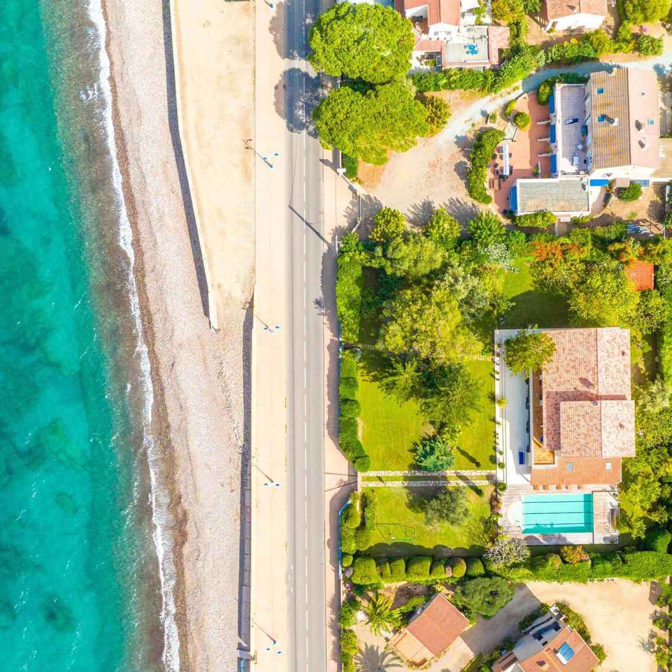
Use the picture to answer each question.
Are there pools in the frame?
Yes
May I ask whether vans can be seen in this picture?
No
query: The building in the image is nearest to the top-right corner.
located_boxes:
[542,0,607,35]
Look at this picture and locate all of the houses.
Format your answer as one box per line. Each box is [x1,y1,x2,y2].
[526,328,635,485]
[404,0,509,72]
[542,0,607,35]
[489,601,599,672]
[536,66,660,187]
[389,592,469,669]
